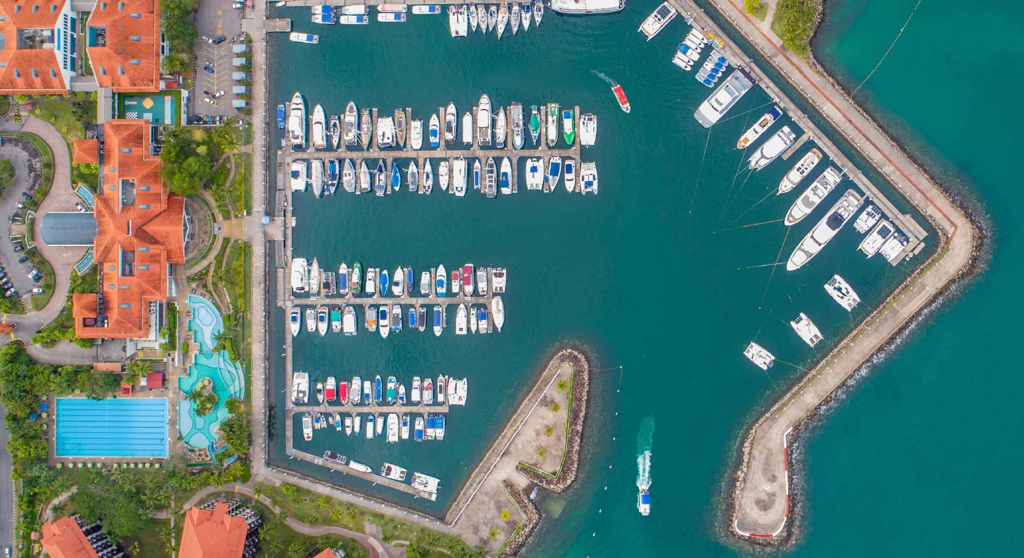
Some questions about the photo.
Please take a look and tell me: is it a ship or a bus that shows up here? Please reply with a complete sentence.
The one in the frame is a ship.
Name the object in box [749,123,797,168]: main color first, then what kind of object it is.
white boat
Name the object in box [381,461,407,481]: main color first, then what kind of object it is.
white boat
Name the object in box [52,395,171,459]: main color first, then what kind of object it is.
blue swimming pool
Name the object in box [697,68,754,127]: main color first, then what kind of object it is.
white ship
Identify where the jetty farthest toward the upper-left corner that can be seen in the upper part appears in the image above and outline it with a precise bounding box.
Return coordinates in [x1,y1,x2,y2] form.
[267,18,292,32]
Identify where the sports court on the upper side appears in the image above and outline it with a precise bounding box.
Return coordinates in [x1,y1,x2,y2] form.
[114,88,182,127]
